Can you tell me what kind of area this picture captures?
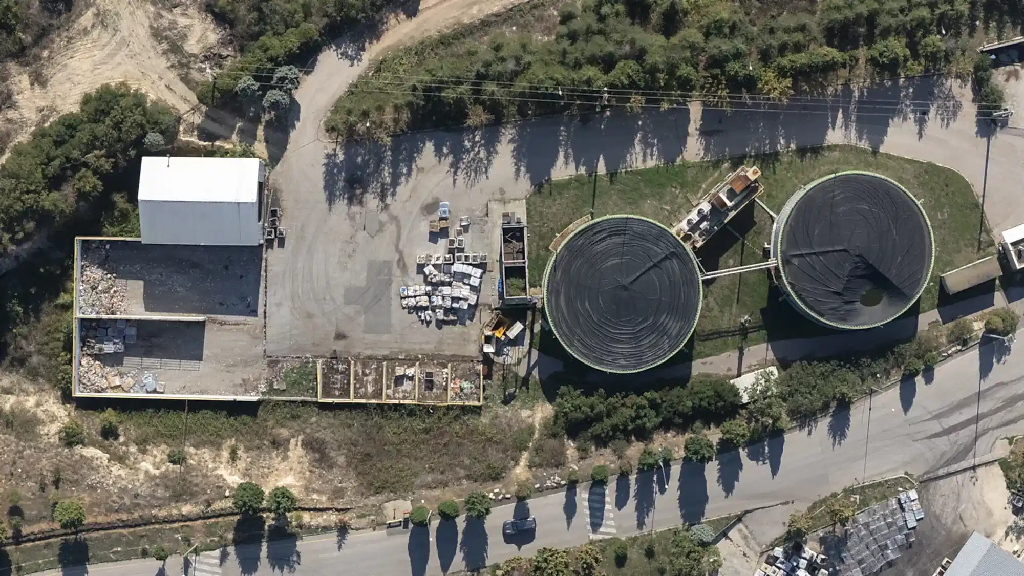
industrial area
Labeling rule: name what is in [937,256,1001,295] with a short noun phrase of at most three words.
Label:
shed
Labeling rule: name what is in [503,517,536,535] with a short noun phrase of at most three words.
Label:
car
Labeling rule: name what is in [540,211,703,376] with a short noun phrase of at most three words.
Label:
storage tank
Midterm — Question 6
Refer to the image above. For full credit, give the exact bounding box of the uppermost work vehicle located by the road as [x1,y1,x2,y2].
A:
[483,313,509,354]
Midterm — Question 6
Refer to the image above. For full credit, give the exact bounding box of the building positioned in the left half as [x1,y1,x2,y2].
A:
[136,156,268,246]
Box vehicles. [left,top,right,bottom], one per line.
[503,517,536,535]
[483,313,509,354]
